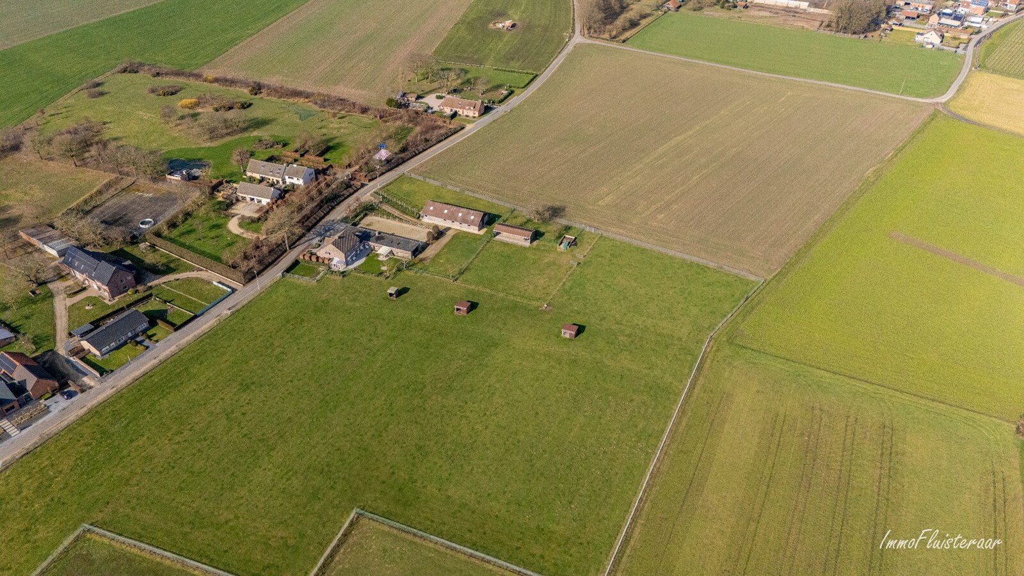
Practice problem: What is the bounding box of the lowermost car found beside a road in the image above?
[56,386,73,399]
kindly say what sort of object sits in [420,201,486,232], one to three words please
building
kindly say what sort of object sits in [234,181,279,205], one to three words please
building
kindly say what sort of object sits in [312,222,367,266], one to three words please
house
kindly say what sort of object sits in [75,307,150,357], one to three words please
house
